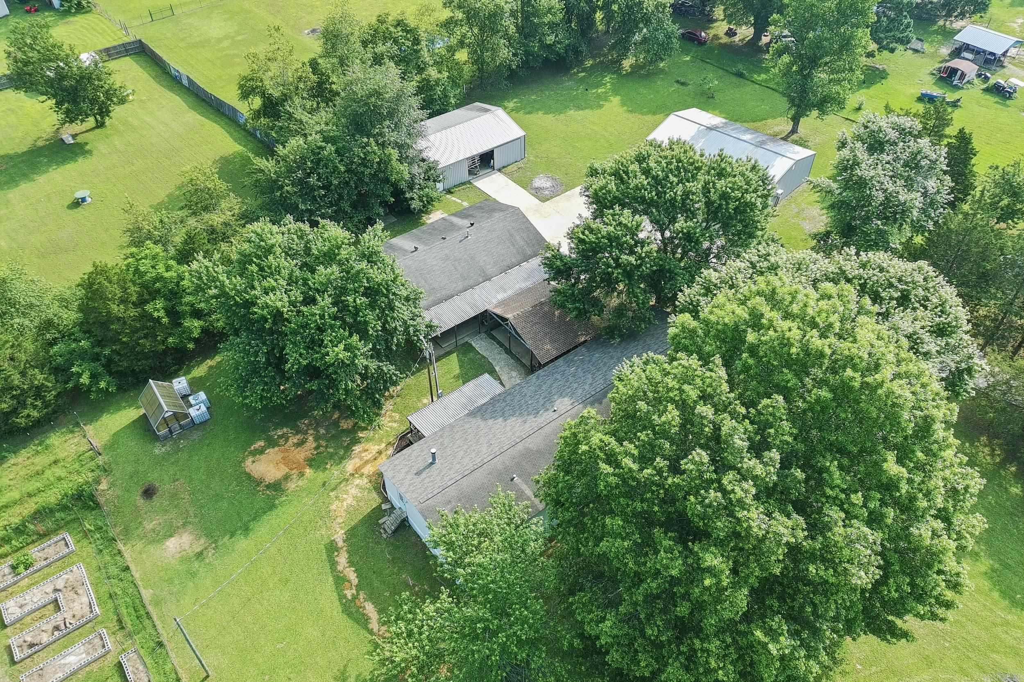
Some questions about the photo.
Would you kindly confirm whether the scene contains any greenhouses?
Yes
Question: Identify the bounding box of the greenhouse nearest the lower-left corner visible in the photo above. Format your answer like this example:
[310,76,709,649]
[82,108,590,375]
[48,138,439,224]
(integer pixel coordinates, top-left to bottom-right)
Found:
[137,377,195,441]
